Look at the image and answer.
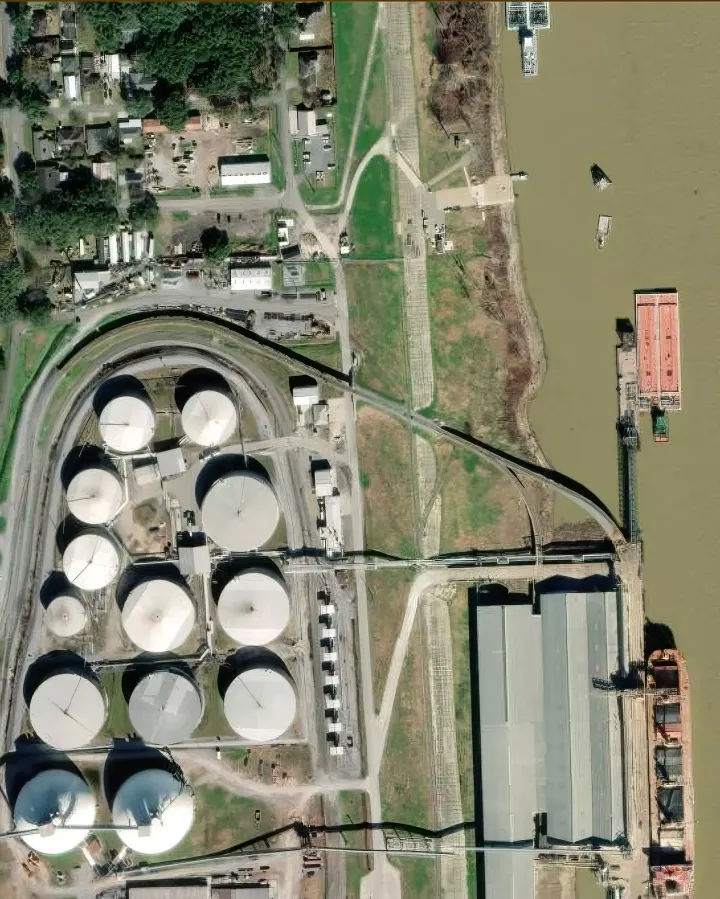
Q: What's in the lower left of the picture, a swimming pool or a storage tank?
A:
storage tank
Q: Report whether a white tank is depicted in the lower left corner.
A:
Yes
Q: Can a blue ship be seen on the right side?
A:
No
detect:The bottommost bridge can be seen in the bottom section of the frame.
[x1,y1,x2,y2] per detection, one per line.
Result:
[535,851,612,865]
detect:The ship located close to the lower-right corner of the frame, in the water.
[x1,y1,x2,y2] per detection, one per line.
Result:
[649,647,694,899]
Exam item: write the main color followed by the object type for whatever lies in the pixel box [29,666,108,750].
white storage tank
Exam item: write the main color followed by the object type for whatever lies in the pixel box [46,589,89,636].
white storage tank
